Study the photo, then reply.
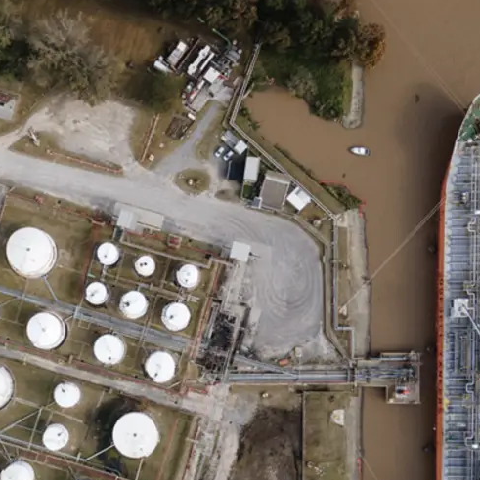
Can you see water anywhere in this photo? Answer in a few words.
Yes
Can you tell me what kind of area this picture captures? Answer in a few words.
industrial area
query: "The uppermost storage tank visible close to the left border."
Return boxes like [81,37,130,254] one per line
[7,229,59,284]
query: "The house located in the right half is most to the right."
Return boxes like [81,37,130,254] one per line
[287,187,311,213]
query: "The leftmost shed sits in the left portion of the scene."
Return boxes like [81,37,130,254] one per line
[114,202,165,234]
